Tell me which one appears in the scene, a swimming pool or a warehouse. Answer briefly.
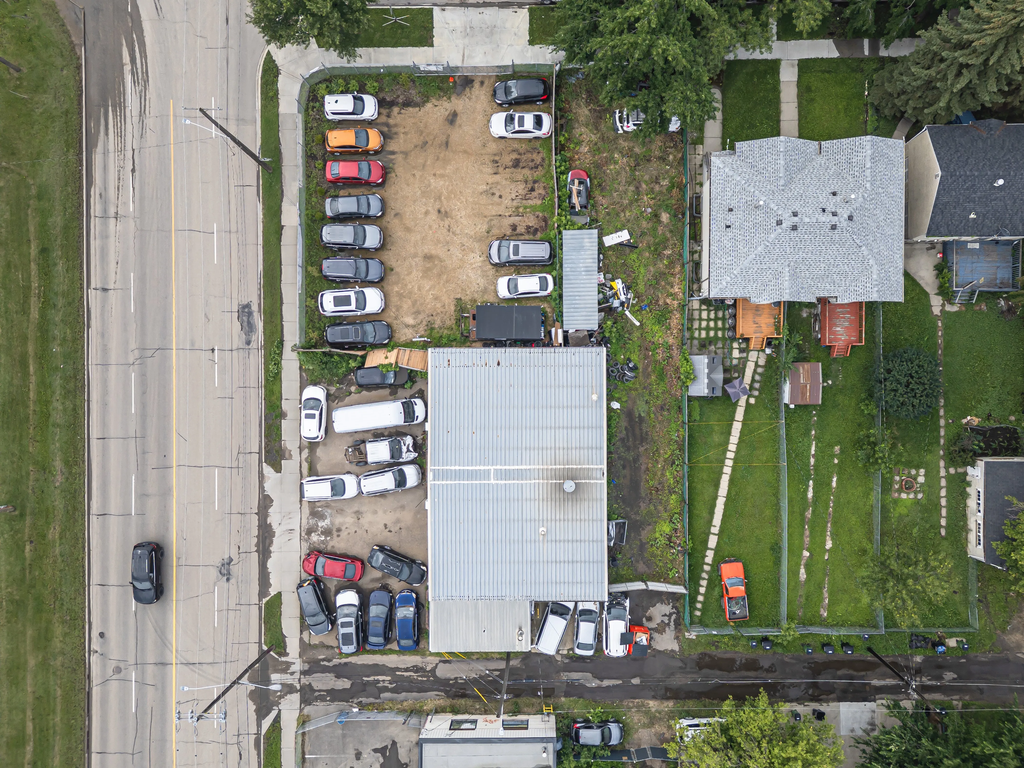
warehouse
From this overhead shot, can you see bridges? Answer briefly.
No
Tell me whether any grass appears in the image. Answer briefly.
Yes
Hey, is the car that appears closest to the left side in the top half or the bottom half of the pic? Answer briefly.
bottom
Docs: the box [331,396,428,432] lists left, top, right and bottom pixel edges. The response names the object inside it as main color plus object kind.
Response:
white van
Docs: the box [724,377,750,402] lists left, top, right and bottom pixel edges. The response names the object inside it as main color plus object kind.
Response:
gray umbrella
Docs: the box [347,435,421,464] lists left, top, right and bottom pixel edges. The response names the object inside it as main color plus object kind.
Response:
white truck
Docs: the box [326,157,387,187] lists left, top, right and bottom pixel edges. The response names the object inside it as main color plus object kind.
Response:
red car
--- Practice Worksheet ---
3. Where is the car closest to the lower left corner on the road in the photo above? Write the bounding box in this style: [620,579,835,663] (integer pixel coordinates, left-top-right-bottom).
[129,541,164,603]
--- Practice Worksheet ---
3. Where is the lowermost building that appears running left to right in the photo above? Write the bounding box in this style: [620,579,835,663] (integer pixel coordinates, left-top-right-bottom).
[418,707,558,768]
